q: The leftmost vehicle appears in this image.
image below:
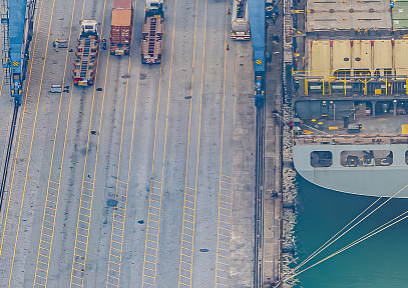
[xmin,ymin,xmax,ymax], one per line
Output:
[73,21,100,85]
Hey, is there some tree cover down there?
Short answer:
No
